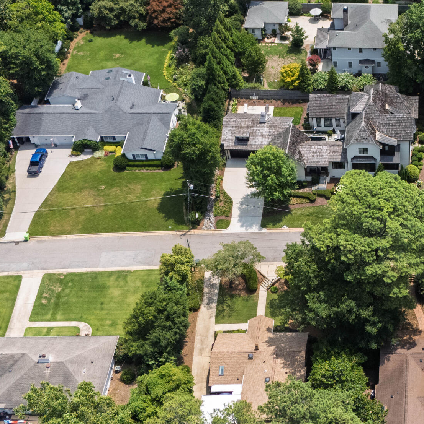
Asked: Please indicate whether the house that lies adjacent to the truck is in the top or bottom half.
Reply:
top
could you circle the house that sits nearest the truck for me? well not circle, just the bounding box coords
[12,66,177,162]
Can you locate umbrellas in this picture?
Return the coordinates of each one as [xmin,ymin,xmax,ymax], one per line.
[165,93,179,103]
[308,8,323,16]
